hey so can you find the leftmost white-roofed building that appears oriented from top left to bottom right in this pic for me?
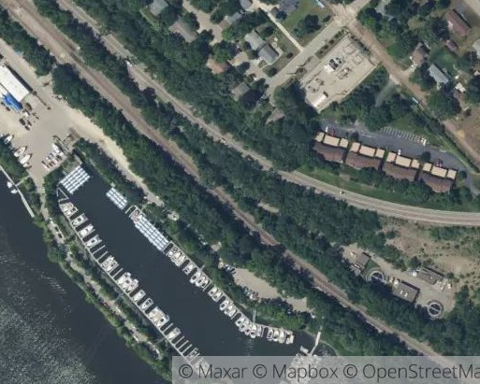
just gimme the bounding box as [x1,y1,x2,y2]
[0,65,30,101]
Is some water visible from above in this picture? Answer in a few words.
Yes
